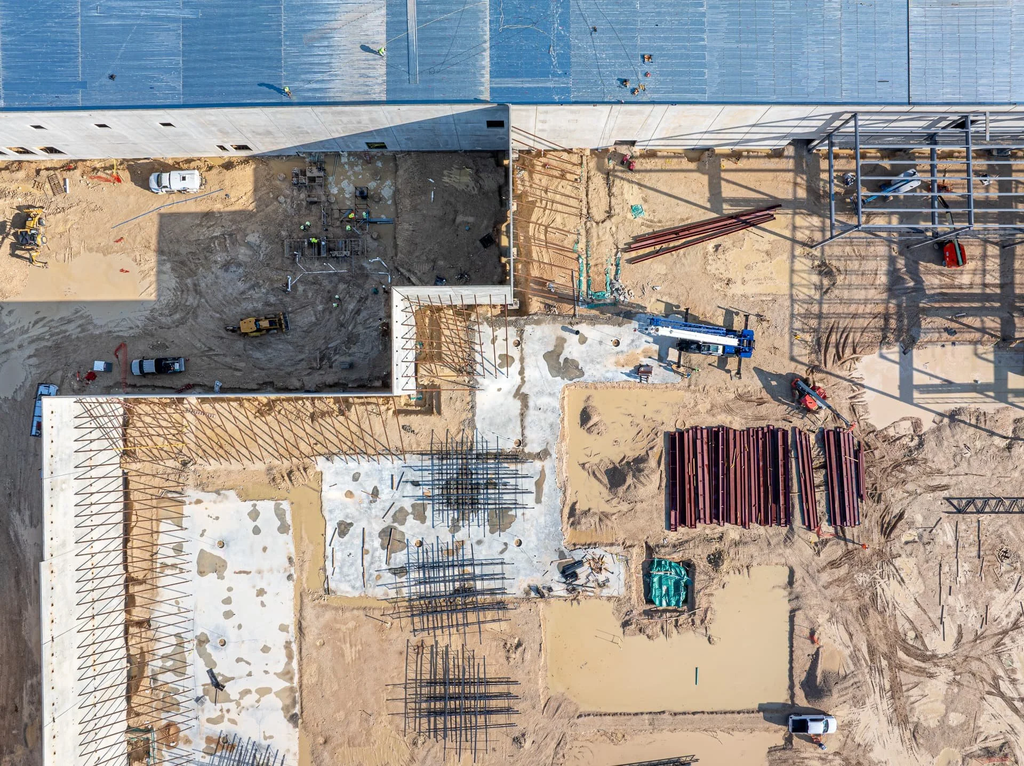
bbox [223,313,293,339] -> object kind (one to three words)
work vehicle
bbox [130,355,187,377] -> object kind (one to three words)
truck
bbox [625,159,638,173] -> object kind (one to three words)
vehicle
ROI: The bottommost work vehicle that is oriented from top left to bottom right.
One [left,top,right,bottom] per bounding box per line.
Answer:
[790,379,854,436]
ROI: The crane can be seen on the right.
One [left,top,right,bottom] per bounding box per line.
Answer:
[634,308,764,379]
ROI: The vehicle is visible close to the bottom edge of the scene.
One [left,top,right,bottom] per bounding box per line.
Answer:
[785,713,837,737]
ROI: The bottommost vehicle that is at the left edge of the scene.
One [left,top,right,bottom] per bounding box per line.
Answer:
[29,380,63,437]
